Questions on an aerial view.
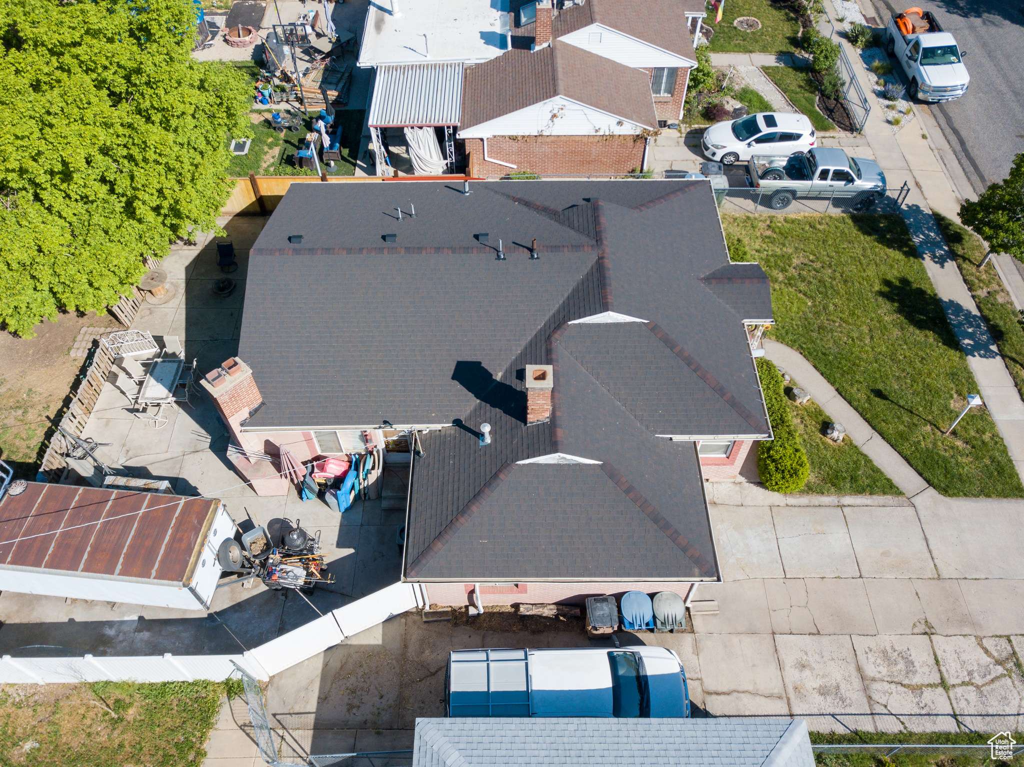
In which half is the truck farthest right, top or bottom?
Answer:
top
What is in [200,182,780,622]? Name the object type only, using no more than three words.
house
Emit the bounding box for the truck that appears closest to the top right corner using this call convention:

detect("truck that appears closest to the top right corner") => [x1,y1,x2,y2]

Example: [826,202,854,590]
[880,13,969,101]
